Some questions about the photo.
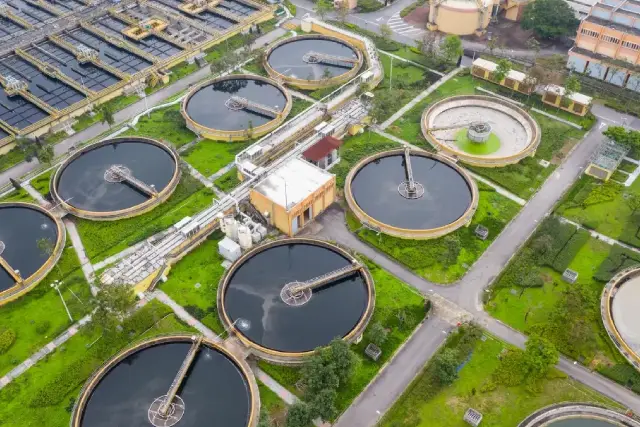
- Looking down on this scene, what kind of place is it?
industrial area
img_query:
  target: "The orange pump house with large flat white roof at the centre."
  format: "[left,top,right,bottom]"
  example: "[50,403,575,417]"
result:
[249,154,338,234]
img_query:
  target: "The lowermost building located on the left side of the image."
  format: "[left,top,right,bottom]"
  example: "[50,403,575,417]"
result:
[218,238,242,266]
